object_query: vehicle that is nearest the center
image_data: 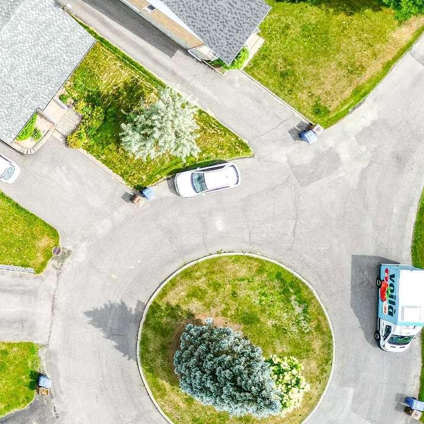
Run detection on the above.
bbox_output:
[174,161,240,197]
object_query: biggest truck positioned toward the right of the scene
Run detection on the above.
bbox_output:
[361,264,421,352]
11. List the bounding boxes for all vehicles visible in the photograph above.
[174,161,240,197]
[0,150,23,185]
[361,264,421,352]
